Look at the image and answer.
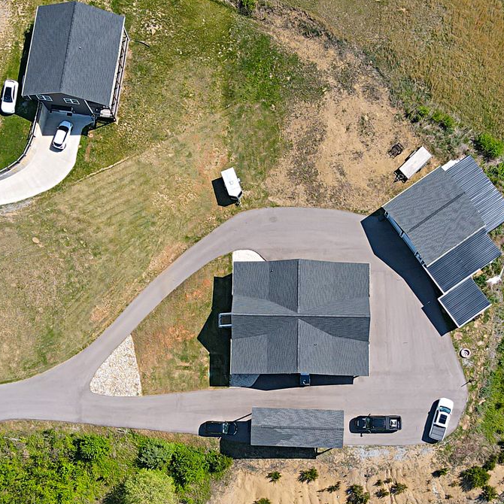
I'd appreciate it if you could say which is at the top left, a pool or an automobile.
automobile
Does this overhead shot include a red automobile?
No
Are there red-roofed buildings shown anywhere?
No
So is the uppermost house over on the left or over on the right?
left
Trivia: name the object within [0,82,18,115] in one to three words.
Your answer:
car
